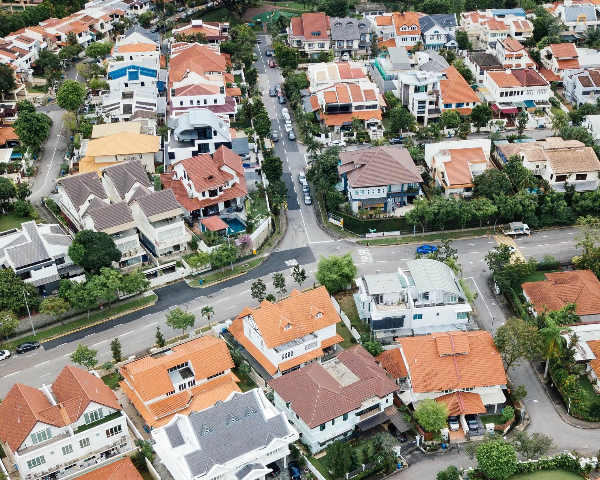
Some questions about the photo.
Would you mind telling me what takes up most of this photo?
buildings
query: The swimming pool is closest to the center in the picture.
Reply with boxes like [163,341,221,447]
[222,216,246,233]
